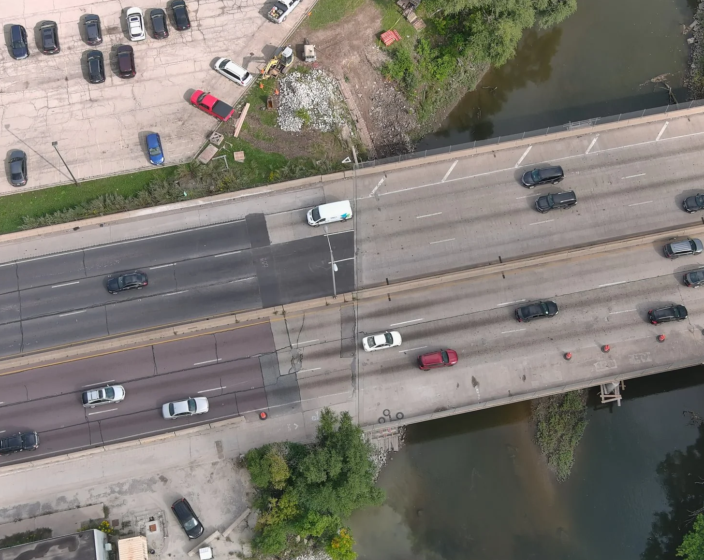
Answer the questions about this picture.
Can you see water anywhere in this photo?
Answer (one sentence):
Yes, water can be seen from above here.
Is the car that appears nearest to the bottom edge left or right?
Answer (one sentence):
The car that appears nearest to the bottom edge is on the left side of the image.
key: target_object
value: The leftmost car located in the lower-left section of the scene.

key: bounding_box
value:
[0,432,40,458]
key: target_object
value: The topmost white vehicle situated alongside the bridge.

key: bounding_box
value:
[306,196,353,227]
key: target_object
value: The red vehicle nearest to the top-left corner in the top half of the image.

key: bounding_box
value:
[188,91,236,123]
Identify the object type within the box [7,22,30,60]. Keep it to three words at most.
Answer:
car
